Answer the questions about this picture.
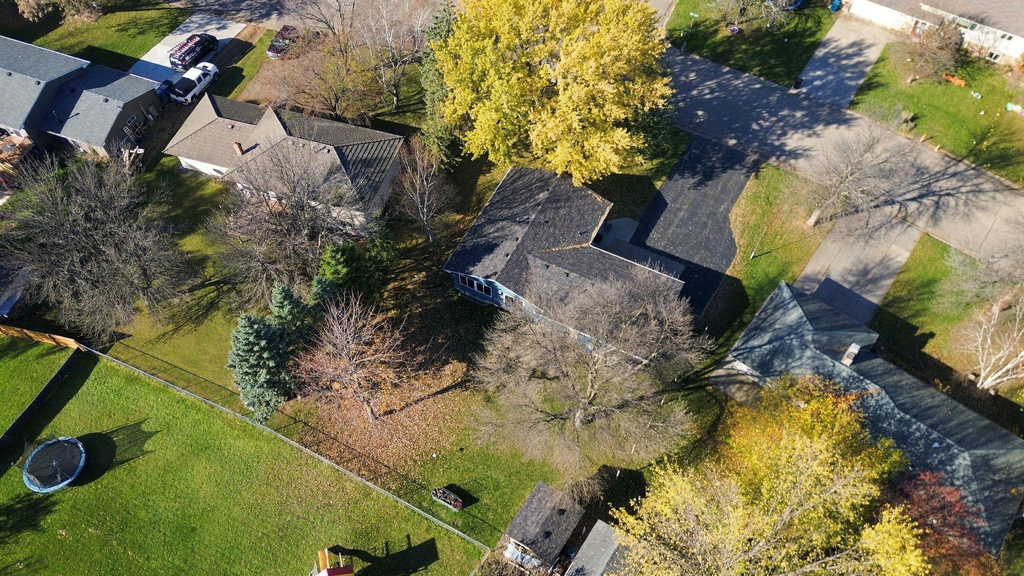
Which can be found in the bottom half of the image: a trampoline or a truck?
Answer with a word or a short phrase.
trampoline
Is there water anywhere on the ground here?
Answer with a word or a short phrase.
No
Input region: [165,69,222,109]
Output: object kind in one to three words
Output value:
truck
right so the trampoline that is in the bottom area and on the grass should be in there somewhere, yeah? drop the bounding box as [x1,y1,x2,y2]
[4,425,88,496]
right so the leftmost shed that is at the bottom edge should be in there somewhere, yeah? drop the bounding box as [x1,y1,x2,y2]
[505,481,586,570]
